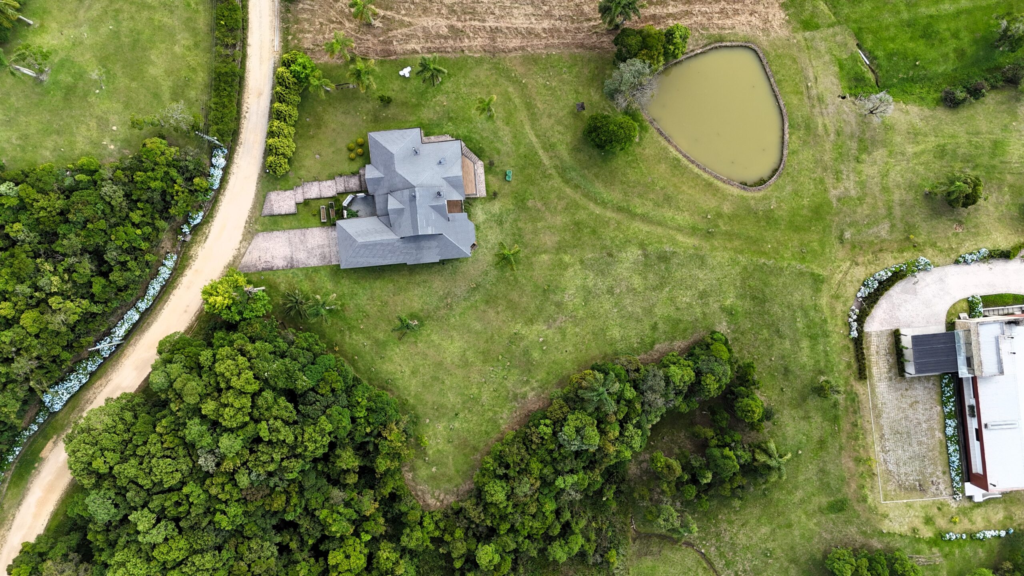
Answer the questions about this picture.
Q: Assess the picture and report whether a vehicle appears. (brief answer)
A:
No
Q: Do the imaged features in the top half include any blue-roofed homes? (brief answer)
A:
No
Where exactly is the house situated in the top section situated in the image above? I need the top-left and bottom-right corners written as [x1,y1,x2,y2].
[336,127,486,268]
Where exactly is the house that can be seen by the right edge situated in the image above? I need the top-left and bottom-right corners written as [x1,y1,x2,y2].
[906,314,1024,501]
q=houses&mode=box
[336,127,486,268]
[906,314,1024,501]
